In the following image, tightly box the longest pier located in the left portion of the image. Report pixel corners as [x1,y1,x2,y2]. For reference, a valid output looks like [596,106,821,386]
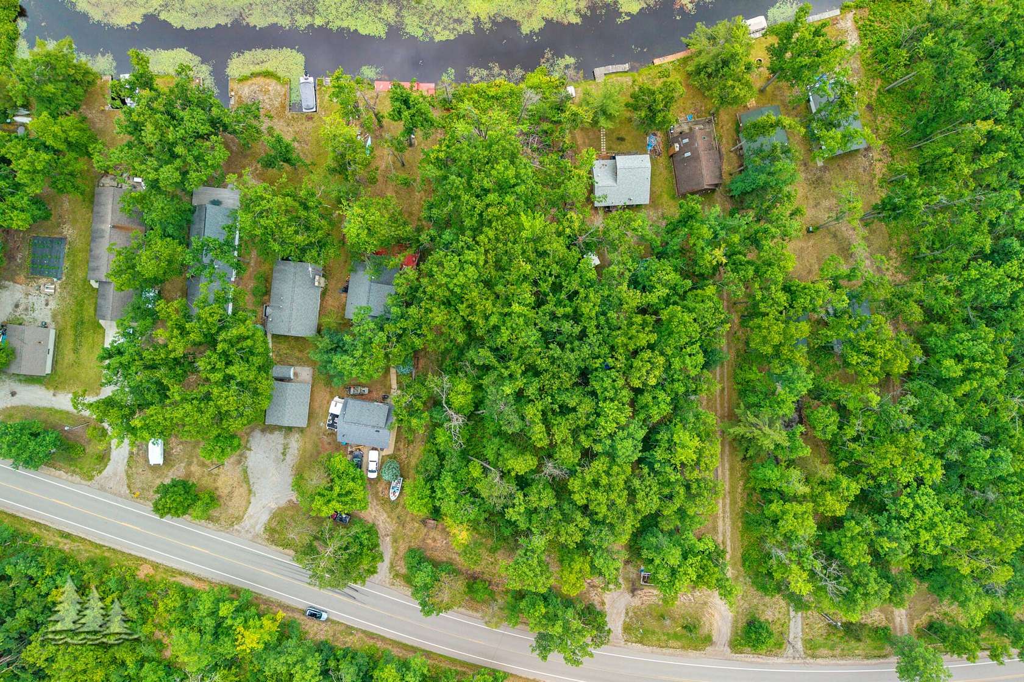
[375,80,435,95]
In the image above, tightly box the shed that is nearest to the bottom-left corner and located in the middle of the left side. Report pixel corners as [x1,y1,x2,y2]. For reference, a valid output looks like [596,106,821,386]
[0,324,58,375]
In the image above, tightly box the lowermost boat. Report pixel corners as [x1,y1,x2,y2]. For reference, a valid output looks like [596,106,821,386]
[391,474,404,502]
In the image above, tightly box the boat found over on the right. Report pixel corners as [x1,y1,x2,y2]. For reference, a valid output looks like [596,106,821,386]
[740,15,766,34]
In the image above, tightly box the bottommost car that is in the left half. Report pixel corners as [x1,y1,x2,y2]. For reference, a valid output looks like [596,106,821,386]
[304,606,329,621]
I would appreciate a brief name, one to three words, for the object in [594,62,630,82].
pier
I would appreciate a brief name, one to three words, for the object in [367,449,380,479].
vehicle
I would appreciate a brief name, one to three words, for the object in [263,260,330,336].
house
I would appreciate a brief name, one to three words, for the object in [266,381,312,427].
building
